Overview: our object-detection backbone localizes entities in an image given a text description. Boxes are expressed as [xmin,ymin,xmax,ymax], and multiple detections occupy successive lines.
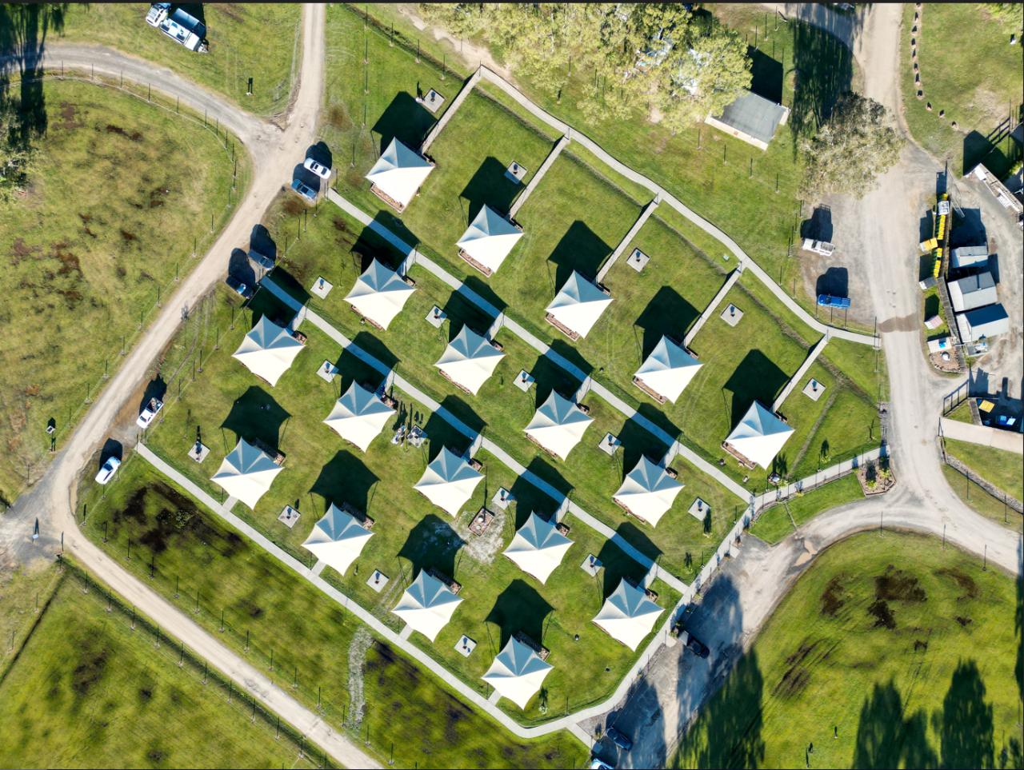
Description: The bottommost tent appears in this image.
[476,619,559,703]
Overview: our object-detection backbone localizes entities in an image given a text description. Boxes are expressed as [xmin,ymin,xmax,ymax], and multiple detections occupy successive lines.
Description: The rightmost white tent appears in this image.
[708,389,789,466]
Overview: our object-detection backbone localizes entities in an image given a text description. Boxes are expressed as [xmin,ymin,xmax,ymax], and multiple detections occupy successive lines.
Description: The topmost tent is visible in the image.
[361,136,443,220]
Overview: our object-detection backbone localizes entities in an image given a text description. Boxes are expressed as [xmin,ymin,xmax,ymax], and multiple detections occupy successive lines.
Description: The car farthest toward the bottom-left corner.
[96,457,121,484]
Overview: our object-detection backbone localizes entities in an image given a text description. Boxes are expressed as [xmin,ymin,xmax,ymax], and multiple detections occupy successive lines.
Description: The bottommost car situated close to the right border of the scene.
[986,409,1011,424]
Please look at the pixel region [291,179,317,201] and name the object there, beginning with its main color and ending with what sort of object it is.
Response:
blue car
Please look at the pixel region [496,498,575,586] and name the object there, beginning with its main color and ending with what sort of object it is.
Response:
white tent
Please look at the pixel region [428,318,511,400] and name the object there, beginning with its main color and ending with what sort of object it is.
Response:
white tent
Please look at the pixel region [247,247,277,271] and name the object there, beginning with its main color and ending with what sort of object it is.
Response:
blue truck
